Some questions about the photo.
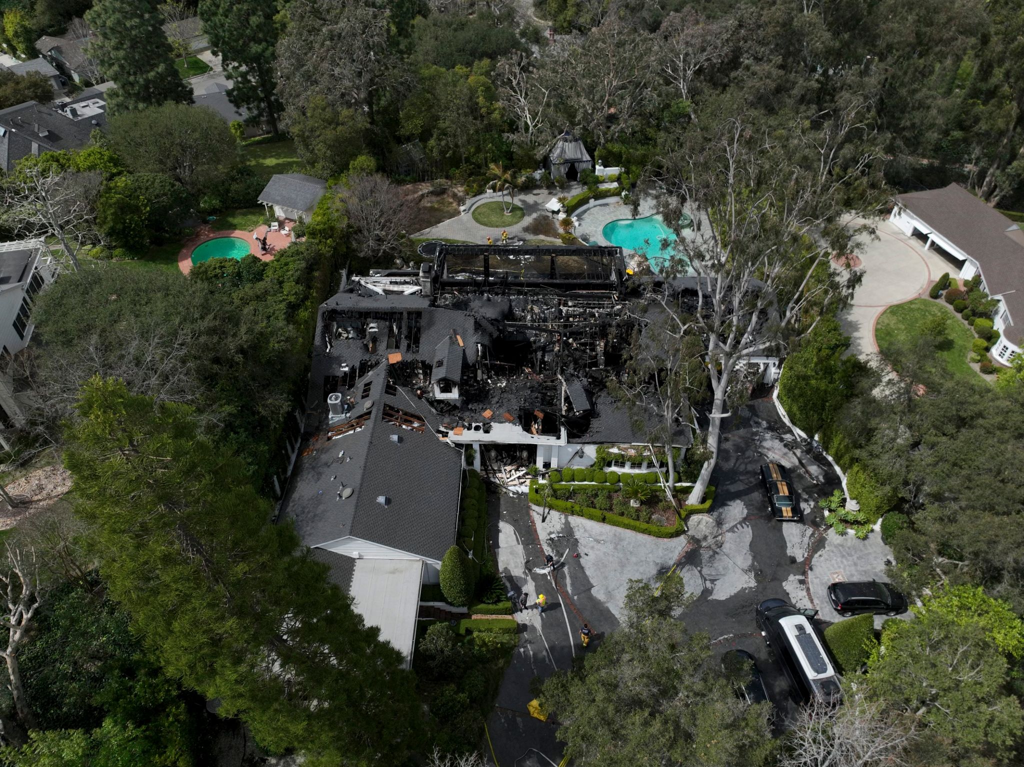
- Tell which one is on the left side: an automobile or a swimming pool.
swimming pool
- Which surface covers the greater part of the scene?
trees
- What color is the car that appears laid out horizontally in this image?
black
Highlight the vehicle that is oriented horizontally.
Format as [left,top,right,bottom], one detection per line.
[825,580,912,619]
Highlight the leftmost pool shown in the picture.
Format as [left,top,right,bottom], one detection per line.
[186,235,254,276]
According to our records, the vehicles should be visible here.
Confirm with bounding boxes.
[757,595,849,731]
[825,580,912,619]
[759,463,802,522]
[804,434,820,449]
[722,654,788,742]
